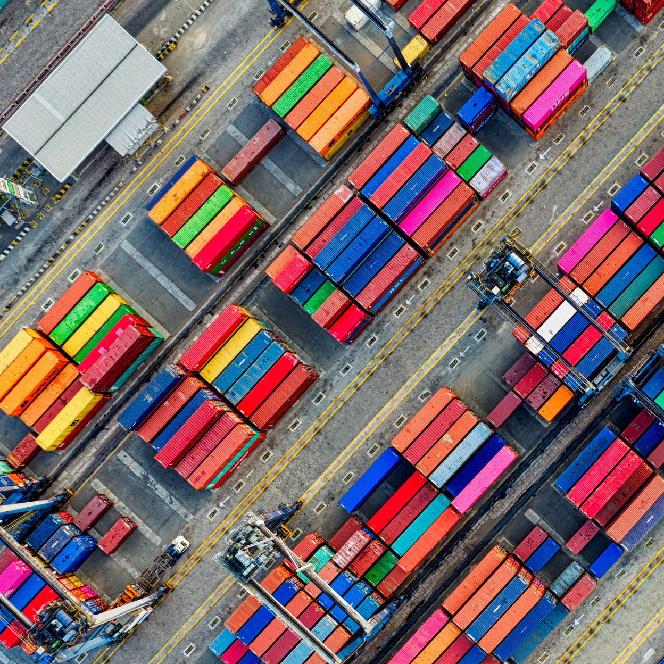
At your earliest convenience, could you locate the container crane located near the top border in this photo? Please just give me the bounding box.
[262,0,429,129]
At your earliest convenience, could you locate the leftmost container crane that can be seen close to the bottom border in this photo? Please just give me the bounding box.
[0,477,183,664]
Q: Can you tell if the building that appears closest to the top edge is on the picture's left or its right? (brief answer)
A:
left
